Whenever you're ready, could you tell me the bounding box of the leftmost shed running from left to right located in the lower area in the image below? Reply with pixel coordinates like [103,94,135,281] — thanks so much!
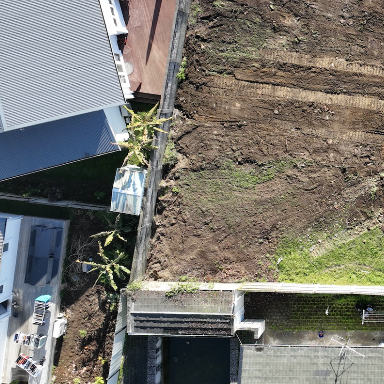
[126,284,244,338]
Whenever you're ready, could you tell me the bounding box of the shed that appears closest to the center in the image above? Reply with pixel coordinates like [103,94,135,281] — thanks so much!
[110,167,145,214]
